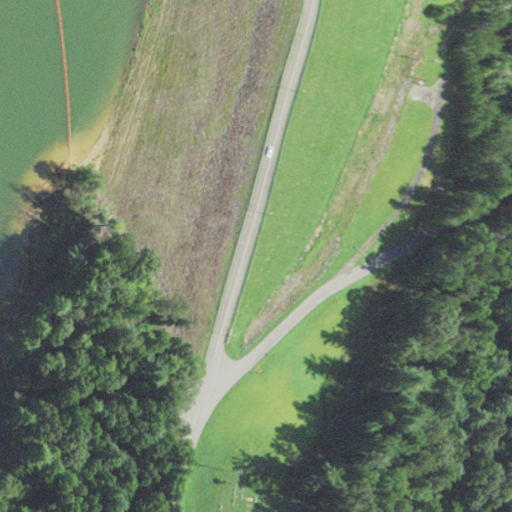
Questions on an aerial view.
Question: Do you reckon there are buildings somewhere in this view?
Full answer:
No, there is no building in the image.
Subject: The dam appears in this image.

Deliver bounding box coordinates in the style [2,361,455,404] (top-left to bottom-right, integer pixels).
[77,0,410,352]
